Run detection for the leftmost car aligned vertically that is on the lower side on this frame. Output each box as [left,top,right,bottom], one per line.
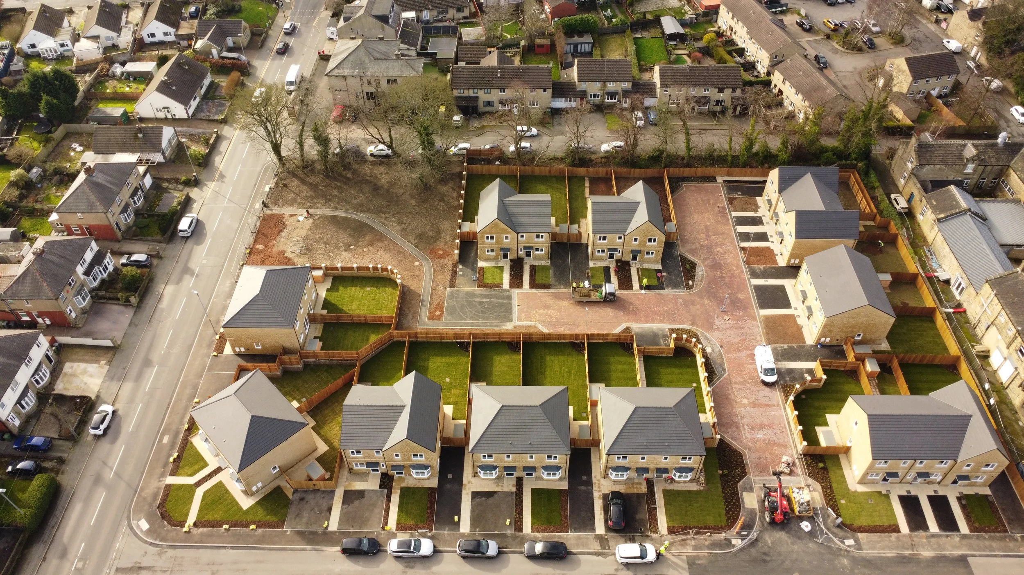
[607,491,626,530]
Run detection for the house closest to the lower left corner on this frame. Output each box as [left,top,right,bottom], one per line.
[0,330,58,436]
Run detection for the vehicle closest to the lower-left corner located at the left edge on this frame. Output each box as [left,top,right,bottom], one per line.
[5,458,44,477]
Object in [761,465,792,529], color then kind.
red work vehicle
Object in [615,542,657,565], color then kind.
white car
